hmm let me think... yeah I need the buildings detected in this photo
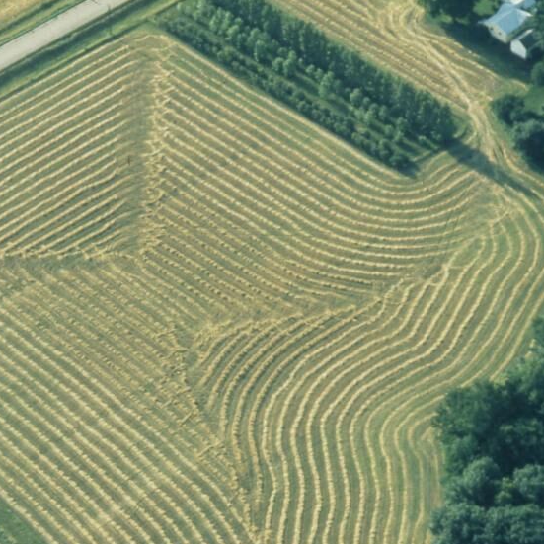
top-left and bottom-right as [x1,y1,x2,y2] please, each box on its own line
[510,31,543,59]
[481,5,532,42]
